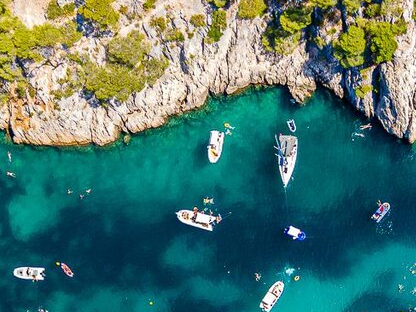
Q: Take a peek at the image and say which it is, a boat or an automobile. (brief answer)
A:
boat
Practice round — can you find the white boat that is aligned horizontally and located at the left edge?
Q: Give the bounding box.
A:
[15,267,47,281]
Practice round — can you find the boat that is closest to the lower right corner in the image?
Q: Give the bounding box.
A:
[369,202,389,224]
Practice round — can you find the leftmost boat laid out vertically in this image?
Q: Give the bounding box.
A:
[208,129,224,163]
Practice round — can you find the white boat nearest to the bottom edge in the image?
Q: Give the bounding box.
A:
[257,283,282,312]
